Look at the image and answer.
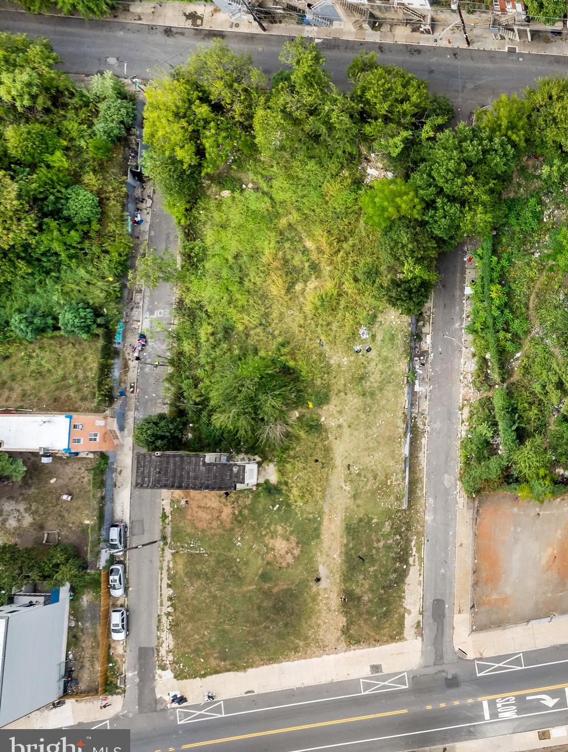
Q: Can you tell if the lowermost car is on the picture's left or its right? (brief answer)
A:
left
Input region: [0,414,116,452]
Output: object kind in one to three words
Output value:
house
